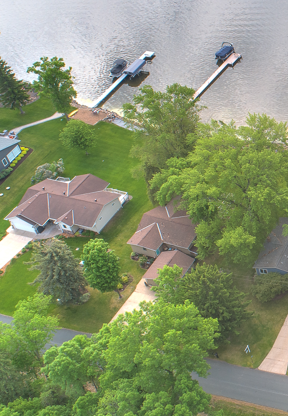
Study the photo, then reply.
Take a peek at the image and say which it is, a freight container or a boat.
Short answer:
boat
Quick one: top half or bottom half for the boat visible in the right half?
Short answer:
top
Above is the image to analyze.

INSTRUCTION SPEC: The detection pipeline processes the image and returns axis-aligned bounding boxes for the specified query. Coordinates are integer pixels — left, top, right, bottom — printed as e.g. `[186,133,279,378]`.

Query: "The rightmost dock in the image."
[185,60,238,114]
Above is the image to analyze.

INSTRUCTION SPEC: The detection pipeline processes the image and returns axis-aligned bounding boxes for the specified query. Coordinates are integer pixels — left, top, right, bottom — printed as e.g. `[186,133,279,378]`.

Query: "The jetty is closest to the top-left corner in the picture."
[90,51,152,108]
